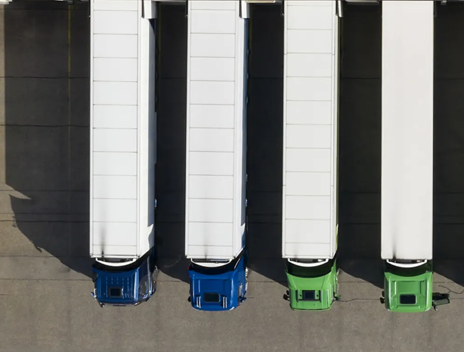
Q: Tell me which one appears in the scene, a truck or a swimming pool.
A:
truck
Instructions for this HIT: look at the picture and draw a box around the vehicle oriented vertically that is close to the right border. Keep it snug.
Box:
[378,0,449,314]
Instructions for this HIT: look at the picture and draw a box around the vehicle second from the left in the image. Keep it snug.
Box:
[183,0,252,312]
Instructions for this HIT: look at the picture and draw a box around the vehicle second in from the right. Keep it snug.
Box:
[280,0,343,312]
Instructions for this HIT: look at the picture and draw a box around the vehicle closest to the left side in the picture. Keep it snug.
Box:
[86,0,161,310]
